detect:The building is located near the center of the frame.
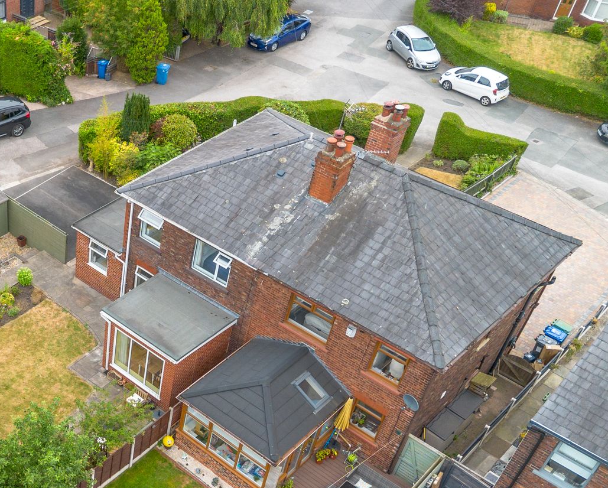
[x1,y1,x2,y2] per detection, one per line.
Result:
[67,99,585,488]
